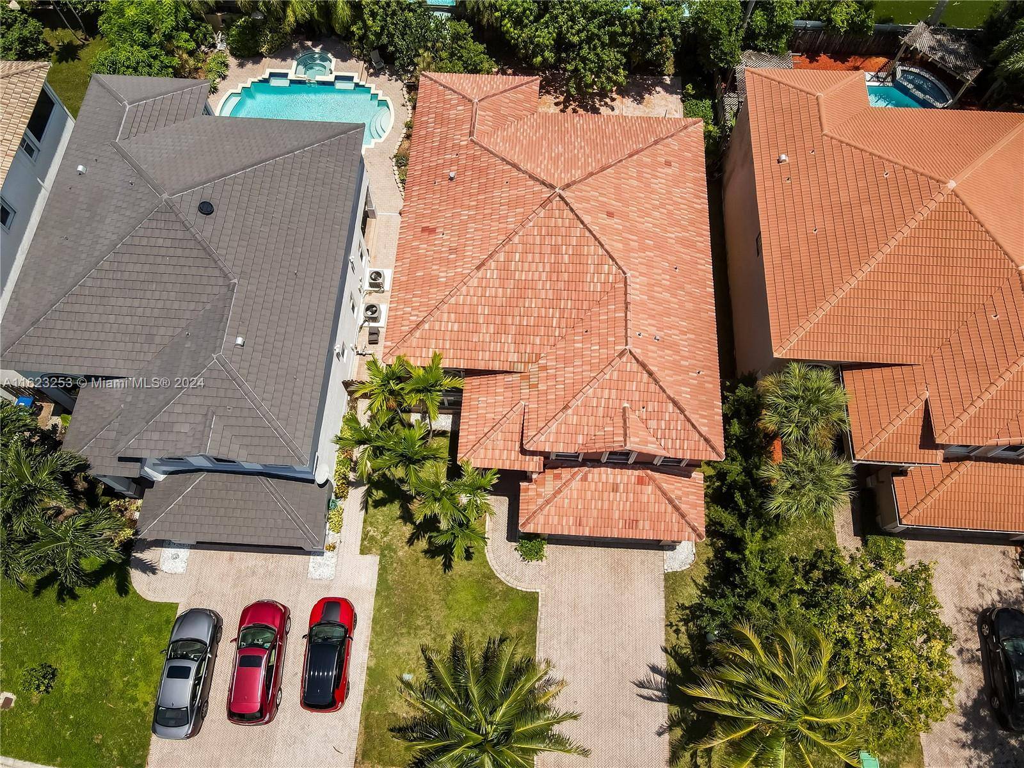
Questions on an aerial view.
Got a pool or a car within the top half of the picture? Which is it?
pool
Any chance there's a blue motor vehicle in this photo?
No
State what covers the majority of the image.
buildings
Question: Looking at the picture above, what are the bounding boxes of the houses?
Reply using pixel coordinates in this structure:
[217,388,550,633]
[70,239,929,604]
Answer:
[721,64,1024,536]
[0,72,370,555]
[383,67,728,545]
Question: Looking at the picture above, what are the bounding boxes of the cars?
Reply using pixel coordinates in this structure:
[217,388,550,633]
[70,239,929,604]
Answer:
[980,603,1024,730]
[299,597,357,711]
[151,606,222,740]
[227,599,290,725]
